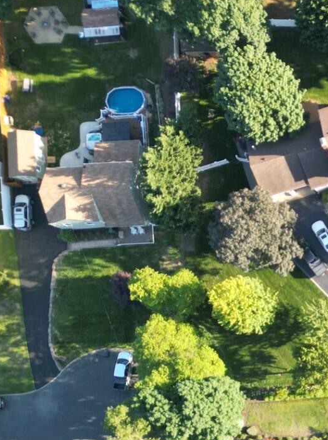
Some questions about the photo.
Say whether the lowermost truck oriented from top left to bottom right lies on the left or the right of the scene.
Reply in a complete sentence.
The lowermost truck oriented from top left to bottom right appears in the right half of the scene.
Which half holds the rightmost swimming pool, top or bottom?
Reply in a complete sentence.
The rightmost swimming pool is in the top half of the image.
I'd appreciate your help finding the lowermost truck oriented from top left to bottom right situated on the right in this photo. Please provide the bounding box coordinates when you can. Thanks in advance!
[296,242,328,283]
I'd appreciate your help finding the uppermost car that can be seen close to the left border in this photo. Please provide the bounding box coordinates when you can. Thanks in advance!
[13,195,34,231]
